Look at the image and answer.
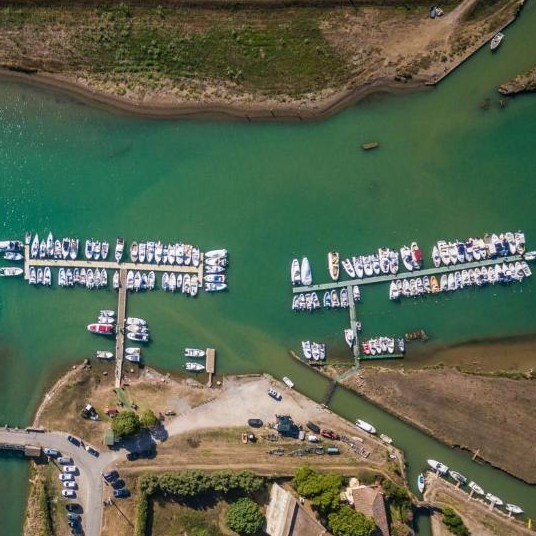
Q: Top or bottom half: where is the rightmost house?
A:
bottom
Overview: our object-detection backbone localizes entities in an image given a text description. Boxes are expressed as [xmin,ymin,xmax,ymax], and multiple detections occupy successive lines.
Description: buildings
[346,477,391,536]
[260,478,330,536]
[274,416,294,433]
[103,427,114,445]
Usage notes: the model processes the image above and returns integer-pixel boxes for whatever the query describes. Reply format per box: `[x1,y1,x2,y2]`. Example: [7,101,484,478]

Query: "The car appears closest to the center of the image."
[267,388,283,401]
